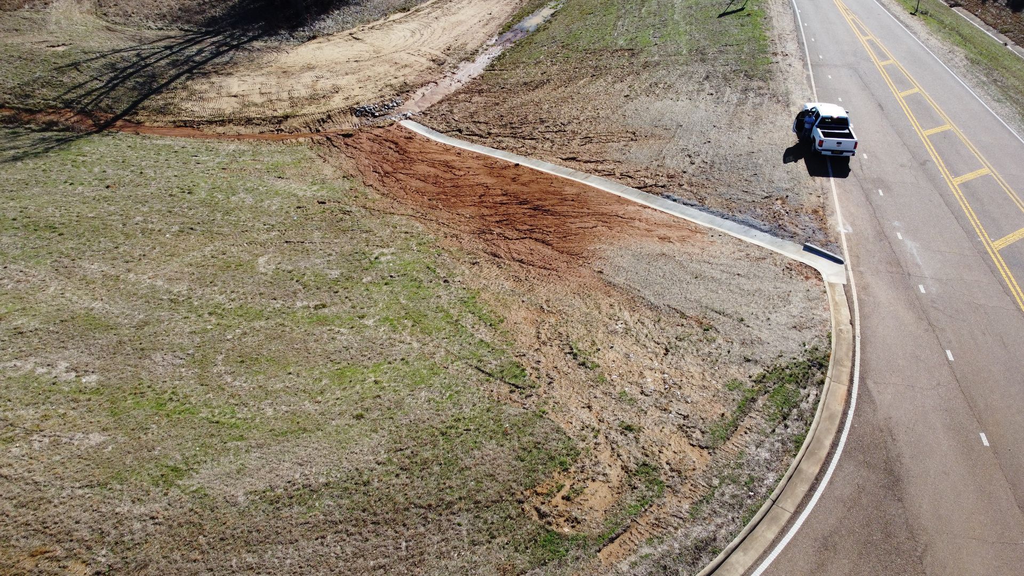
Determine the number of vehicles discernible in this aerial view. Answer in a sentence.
I count 1 vehicle.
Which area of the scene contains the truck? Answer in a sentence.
You can find the truck in the top right area of the picture.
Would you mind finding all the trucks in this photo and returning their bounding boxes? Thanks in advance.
[788,101,857,157]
